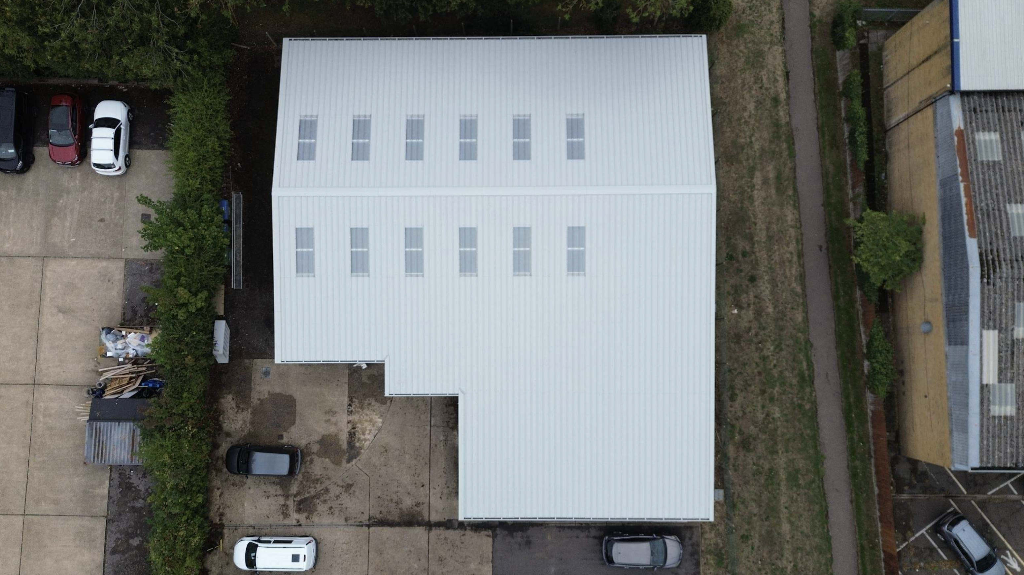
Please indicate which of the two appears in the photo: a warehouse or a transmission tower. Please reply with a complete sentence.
This aerial view contains a warehouse.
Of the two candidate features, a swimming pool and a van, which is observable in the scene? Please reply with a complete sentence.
Of the two, only a van appears.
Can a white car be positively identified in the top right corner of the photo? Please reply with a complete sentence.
No, I see no white car in the top right corner of the photo.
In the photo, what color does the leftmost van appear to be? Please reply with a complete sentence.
The leftmost van looks black in the image.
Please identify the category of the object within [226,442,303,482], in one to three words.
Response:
car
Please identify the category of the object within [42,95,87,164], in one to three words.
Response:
car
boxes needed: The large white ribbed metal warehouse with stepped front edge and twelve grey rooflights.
[271,34,716,520]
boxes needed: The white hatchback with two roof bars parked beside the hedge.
[88,103,134,176]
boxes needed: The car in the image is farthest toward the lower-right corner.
[933,504,1005,575]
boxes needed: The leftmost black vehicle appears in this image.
[0,88,35,173]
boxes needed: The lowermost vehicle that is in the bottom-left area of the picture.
[235,533,320,575]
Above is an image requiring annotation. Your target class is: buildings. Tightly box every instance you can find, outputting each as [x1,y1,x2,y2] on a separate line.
[887,95,1024,474]
[84,397,182,465]
[271,34,716,520]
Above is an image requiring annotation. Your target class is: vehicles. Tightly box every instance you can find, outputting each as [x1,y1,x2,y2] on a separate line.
[0,88,35,173]
[601,532,682,575]
[235,533,320,575]
[42,95,87,164]
[933,504,1005,575]
[88,103,134,176]
[226,442,303,482]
